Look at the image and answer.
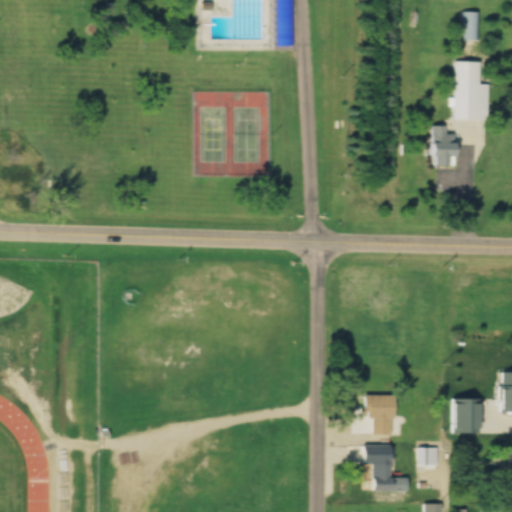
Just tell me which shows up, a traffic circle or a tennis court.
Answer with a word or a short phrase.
tennis court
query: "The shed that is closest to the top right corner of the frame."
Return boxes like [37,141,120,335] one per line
[460,12,480,40]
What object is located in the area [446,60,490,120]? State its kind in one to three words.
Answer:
building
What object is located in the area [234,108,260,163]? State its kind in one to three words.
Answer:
tennis court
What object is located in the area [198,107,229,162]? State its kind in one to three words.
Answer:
tennis court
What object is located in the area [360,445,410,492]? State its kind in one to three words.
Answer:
house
